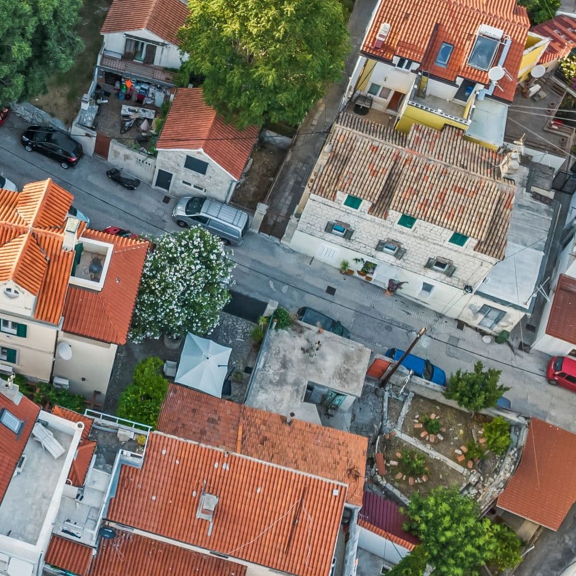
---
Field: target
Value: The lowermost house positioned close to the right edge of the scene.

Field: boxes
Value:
[491,418,576,550]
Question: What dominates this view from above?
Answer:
buildings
